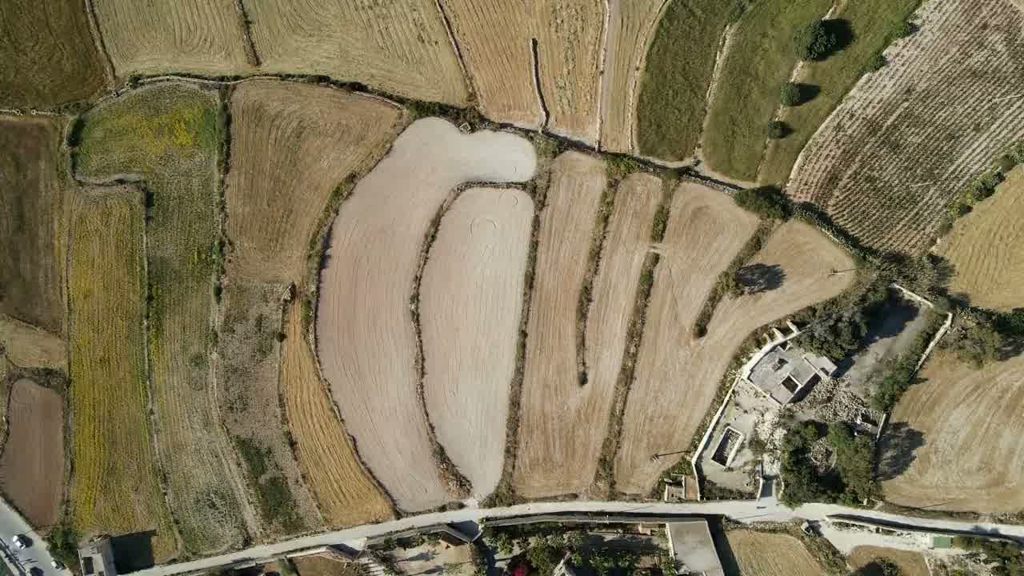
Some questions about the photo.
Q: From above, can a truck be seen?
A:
No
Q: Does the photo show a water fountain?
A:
No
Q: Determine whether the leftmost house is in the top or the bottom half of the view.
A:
bottom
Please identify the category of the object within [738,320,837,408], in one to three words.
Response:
house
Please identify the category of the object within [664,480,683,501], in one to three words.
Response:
shed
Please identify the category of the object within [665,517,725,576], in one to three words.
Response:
building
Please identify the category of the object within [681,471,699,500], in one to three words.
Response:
shed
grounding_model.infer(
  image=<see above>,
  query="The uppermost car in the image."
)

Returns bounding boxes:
[11,534,28,551]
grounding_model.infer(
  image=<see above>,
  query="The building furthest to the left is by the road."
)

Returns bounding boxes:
[75,534,123,576]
